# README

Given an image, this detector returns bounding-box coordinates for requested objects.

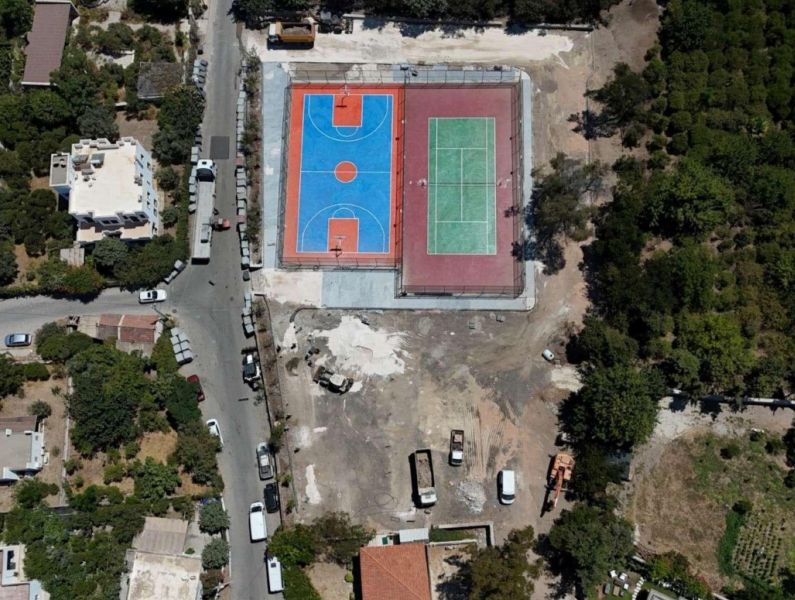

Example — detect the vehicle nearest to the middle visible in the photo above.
[313,366,351,394]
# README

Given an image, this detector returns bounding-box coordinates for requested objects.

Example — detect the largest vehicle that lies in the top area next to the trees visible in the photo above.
[193,156,214,262]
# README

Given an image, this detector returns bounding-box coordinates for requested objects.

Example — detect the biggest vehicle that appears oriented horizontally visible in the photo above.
[267,23,316,45]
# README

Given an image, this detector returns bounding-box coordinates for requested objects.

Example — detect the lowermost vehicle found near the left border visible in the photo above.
[5,335,33,348]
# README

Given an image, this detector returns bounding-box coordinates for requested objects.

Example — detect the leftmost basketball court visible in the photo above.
[281,82,404,265]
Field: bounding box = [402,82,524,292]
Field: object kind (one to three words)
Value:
tennis court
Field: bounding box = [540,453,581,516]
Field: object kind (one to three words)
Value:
work vehicle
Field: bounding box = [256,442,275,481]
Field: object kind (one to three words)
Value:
vehicle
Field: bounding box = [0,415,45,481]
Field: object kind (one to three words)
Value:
house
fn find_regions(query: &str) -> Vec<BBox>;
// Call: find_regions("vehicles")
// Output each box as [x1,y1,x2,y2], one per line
[313,366,351,394]
[193,374,207,404]
[140,289,168,303]
[267,23,316,45]
[414,447,439,508]
[450,429,464,466]
[498,470,515,505]
[248,501,267,542]
[263,553,283,596]
[256,442,275,481]
[206,418,227,449]
[263,482,280,513]
[5,335,33,348]
[241,349,262,387]
[212,217,229,229]
[540,453,581,516]
[193,156,214,262]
